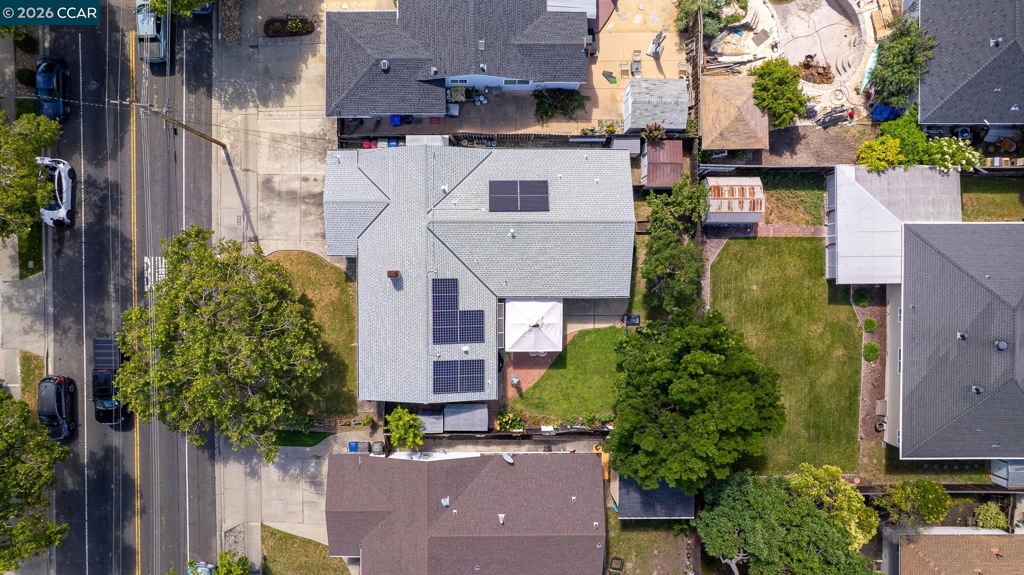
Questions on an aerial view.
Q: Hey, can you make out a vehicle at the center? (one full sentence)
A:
No, no vehicle appears at the center.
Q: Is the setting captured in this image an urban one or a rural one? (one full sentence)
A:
It looks urban.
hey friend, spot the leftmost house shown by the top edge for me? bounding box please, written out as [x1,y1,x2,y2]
[324,0,596,120]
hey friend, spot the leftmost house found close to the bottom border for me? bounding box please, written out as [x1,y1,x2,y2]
[323,449,608,575]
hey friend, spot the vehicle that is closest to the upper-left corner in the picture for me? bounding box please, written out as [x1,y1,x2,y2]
[29,52,69,121]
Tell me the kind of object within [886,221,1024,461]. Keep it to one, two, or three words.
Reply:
house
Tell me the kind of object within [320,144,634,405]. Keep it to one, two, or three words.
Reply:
house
